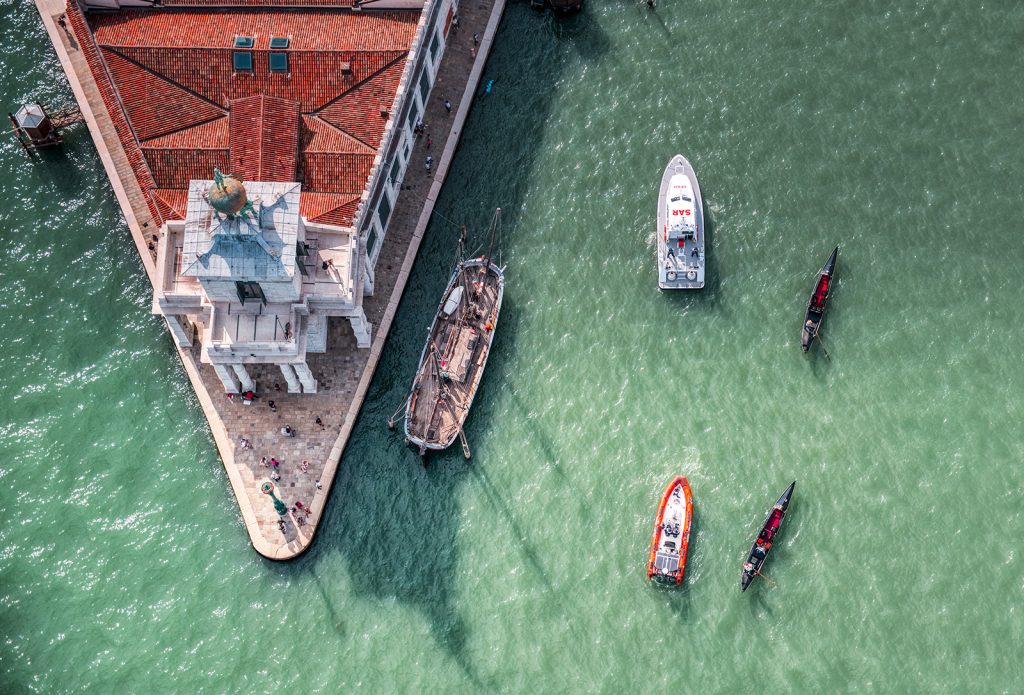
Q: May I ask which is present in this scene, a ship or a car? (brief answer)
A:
ship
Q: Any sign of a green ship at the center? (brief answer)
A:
No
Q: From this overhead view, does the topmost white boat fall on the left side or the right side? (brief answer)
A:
right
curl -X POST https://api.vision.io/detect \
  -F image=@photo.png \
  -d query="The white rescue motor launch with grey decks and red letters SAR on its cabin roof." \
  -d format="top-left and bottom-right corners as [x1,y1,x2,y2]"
[657,152,705,294]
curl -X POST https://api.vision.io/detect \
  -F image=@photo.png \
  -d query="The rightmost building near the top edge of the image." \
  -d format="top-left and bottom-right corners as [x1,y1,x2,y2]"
[66,0,461,259]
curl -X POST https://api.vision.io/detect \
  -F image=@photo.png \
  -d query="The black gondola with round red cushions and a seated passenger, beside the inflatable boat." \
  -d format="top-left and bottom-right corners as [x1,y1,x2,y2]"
[742,478,796,592]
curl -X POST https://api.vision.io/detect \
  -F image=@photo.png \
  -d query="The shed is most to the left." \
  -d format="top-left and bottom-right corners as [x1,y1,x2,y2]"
[0,104,62,152]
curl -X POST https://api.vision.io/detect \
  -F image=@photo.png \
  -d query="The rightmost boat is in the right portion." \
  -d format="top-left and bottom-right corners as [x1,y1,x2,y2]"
[802,240,838,353]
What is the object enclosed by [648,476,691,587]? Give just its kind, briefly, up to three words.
boat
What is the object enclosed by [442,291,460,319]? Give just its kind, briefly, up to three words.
boat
